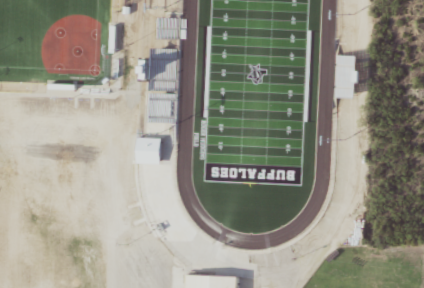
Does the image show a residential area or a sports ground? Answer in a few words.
sports ground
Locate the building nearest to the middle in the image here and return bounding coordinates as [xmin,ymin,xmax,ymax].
[134,138,162,164]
